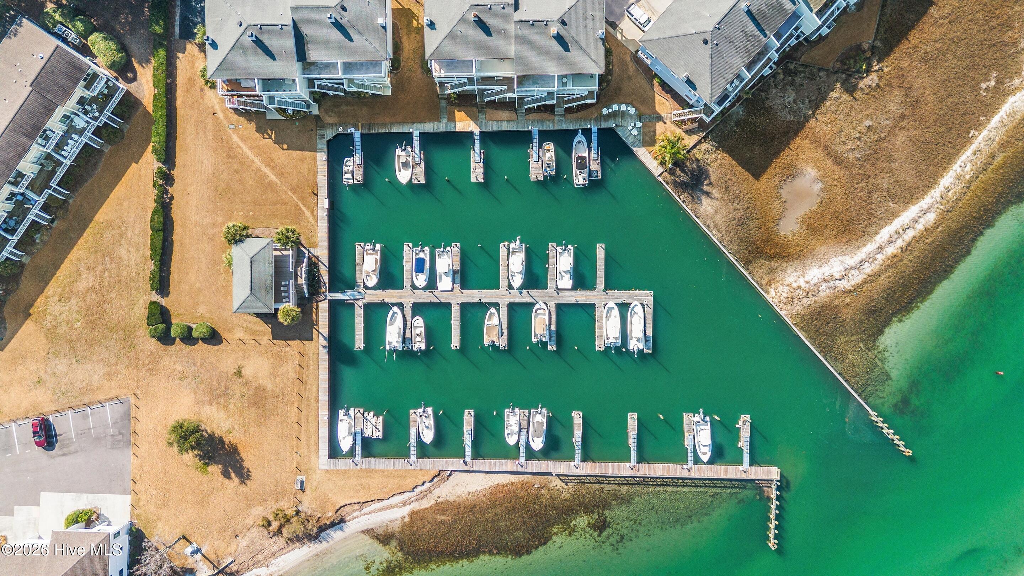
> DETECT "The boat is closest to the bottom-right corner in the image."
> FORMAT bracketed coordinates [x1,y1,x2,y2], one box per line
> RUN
[695,406,712,463]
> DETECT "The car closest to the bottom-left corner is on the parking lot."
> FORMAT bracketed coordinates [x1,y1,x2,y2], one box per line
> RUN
[29,415,49,447]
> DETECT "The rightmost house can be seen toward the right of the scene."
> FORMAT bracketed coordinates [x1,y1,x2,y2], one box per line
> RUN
[633,0,851,127]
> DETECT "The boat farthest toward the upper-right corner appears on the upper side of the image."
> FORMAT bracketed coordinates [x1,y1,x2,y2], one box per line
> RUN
[573,130,589,188]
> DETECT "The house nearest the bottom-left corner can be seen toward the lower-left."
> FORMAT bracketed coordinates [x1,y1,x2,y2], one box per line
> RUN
[0,508,132,576]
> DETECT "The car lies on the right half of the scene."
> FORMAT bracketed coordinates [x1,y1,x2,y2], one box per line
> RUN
[628,2,656,31]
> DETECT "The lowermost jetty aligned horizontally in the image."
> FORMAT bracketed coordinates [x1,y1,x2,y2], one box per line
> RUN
[319,456,782,481]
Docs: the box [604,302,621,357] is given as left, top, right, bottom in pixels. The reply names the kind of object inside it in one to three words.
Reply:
boat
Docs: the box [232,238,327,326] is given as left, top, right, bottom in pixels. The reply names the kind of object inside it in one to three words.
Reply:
building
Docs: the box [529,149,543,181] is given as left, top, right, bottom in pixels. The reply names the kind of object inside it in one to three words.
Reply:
pier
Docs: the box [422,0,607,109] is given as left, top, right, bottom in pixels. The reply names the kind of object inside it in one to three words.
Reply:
house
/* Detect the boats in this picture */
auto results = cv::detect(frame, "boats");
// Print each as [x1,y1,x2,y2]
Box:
[396,138,413,184]
[386,306,403,359]
[628,302,644,360]
[505,399,519,446]
[413,240,429,288]
[509,235,525,288]
[412,316,425,358]
[336,401,354,454]
[542,142,555,184]
[695,406,712,463]
[419,398,435,445]
[484,308,500,353]
[532,302,548,350]
[362,238,381,287]
[343,158,353,192]
[557,238,573,288]
[604,302,621,357]
[573,130,589,188]
[530,401,546,451]
[436,240,453,290]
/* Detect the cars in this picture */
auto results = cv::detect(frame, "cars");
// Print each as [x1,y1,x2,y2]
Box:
[29,415,49,447]
[628,2,656,31]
